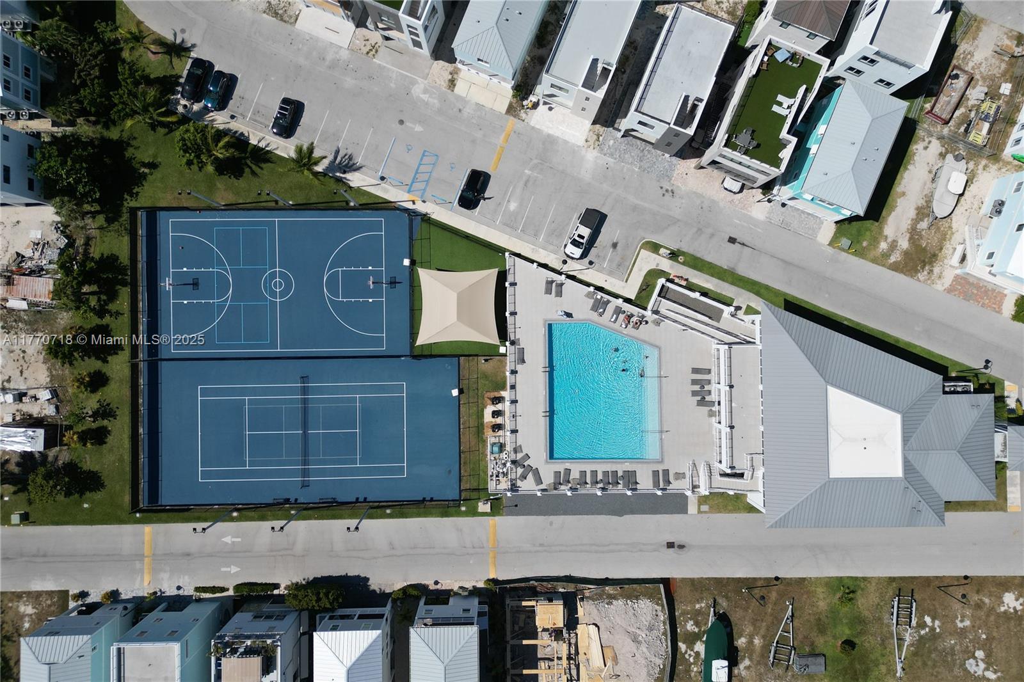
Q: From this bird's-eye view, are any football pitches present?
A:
No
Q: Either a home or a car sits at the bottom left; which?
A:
home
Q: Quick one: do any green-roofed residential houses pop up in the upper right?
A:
Yes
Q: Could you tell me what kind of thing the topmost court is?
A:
basketball court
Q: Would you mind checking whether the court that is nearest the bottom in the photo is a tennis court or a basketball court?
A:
tennis court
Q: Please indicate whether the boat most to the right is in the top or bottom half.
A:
top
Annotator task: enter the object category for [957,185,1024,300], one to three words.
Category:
house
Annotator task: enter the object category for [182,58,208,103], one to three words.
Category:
car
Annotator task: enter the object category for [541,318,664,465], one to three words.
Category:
swimming pool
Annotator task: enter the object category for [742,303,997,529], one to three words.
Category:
building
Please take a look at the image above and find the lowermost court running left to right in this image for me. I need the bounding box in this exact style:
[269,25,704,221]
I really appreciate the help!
[142,357,460,507]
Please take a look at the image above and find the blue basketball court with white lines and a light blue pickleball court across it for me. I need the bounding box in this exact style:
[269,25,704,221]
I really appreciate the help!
[142,210,421,359]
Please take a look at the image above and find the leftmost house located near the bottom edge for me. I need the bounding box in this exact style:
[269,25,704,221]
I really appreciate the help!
[20,598,140,682]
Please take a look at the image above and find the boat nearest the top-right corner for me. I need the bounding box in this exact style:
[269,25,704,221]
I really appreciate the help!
[938,150,972,215]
